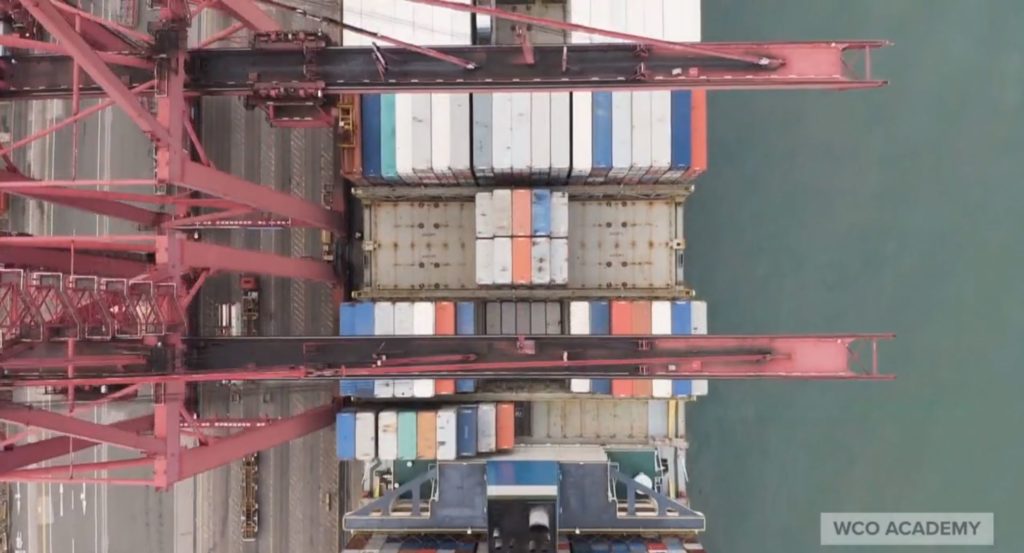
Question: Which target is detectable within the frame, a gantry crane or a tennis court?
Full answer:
I can see a gantry crane in this picture.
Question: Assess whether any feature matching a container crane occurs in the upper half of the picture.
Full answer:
Yes, there is a container crane in the upper half of the picture.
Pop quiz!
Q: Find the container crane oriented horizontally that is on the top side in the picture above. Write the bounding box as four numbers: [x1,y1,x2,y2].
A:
[0,0,888,251]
